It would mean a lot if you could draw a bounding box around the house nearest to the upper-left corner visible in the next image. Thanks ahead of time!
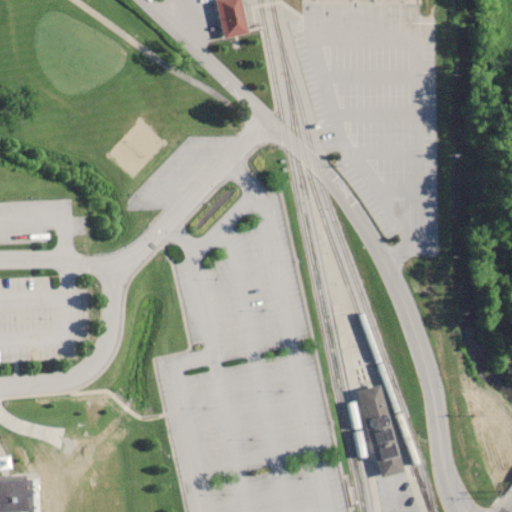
[213,0,248,38]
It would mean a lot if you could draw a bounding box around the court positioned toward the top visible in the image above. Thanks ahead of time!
[106,117,168,178]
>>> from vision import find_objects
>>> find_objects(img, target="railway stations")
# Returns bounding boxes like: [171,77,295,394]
[311,192,426,512]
